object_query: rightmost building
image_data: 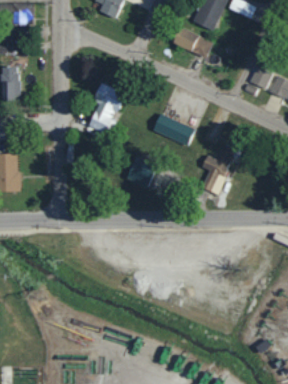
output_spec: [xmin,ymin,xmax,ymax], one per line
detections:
[268,76,288,102]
